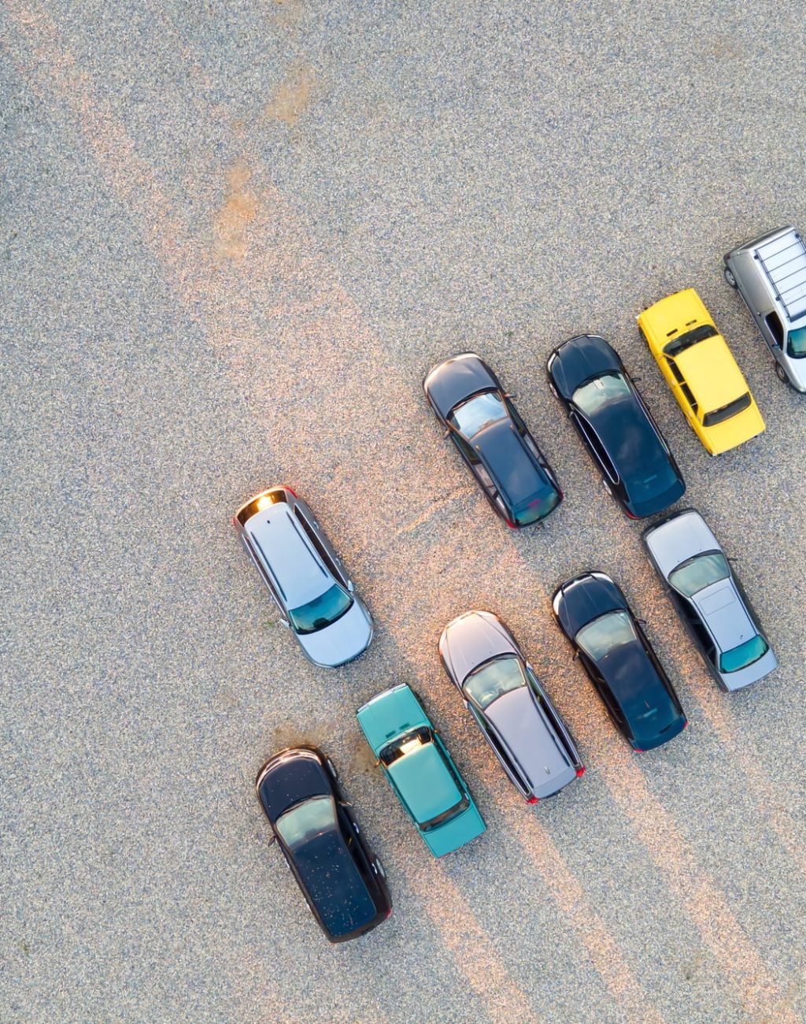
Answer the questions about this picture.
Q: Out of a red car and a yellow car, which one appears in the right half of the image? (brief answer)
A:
yellow car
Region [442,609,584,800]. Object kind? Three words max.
car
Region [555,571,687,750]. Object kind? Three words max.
car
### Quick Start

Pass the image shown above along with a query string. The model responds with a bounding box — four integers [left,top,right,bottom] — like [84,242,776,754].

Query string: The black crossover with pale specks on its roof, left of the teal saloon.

[258,743,390,941]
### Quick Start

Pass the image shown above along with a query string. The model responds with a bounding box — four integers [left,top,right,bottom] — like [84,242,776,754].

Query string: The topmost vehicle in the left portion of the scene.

[237,487,369,665]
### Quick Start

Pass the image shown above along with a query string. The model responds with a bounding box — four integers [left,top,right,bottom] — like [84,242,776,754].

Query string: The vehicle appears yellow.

[636,289,764,456]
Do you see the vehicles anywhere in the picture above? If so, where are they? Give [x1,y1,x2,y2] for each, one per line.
[258,743,390,941]
[645,510,776,690]
[237,487,369,665]
[548,336,685,521]
[555,571,687,750]
[442,609,584,800]
[425,353,557,529]
[636,289,764,456]
[357,683,486,856]
[724,224,806,389]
